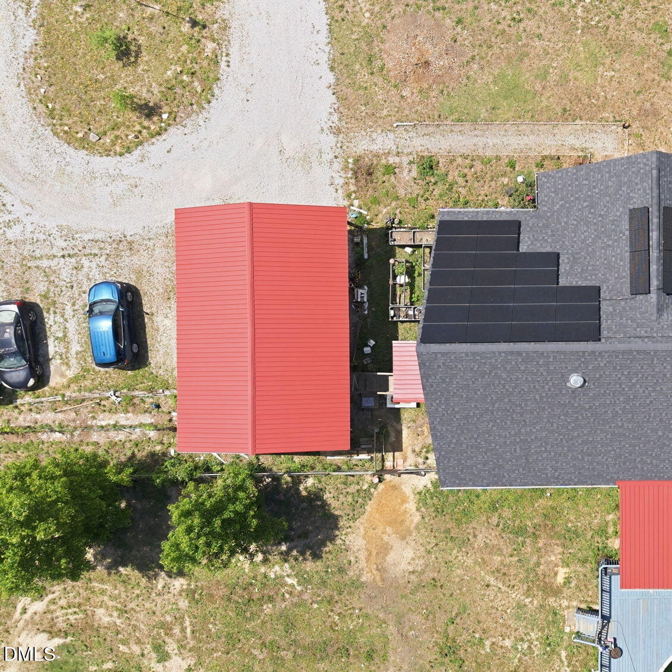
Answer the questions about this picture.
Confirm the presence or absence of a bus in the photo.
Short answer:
No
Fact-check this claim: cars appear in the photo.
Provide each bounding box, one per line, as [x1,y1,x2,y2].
[0,301,46,391]
[83,277,143,372]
